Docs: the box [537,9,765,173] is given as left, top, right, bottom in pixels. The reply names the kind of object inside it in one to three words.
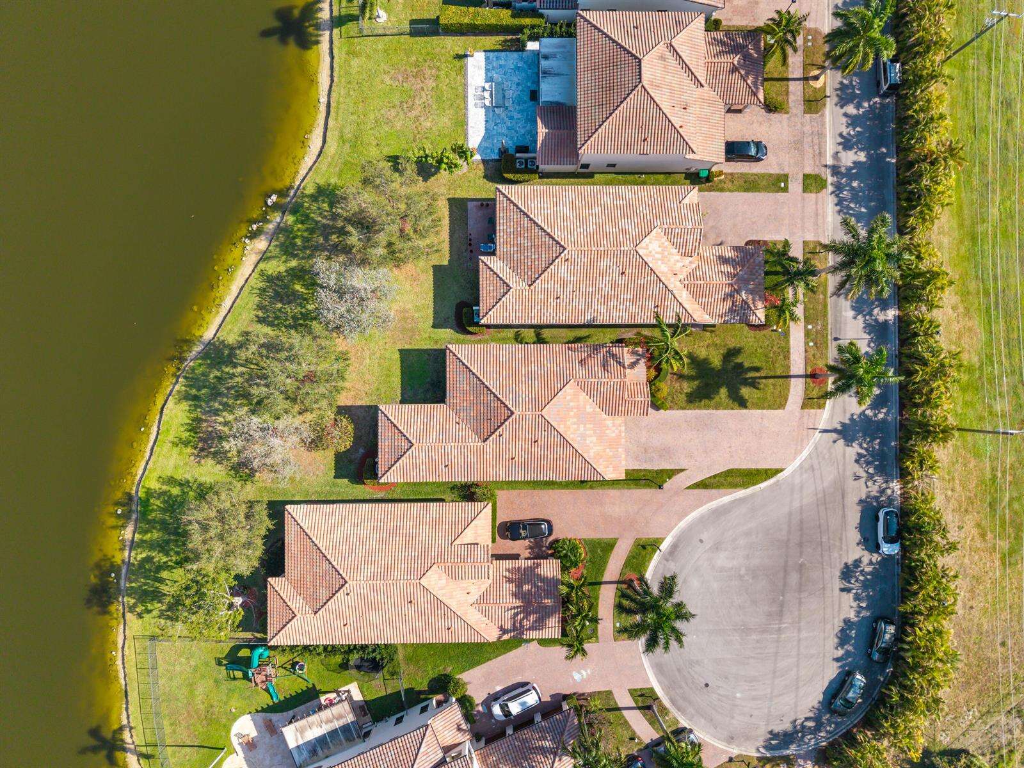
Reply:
house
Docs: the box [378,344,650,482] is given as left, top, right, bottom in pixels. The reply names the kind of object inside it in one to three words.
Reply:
house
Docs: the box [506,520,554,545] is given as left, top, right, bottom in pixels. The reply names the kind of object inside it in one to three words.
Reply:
car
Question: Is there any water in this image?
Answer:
Yes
